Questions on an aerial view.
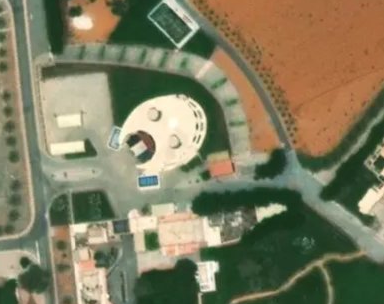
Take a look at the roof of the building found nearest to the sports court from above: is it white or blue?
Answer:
white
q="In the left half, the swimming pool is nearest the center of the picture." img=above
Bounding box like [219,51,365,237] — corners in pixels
[137,174,160,189]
